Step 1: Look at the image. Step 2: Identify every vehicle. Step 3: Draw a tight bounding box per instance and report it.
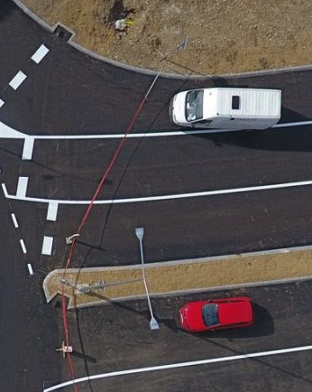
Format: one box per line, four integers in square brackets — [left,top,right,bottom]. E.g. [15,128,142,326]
[177,295,258,333]
[166,83,285,130]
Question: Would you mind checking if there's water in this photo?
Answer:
No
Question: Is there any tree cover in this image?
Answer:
No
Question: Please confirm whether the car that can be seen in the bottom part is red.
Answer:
Yes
